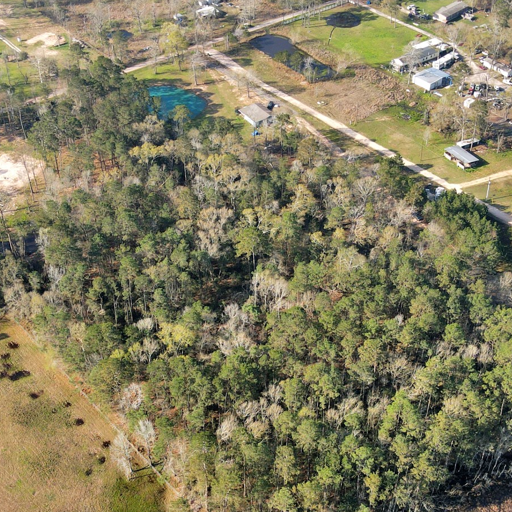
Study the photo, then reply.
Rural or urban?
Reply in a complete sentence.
From above, the setting appears rural.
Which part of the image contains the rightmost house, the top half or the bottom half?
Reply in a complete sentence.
It is in the top half that the rightmost house appears.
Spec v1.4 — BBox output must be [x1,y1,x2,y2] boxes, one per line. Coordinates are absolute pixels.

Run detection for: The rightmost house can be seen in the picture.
[483,57,512,78]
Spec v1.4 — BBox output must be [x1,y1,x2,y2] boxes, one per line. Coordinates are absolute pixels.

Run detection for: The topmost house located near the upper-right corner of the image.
[429,2,470,26]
